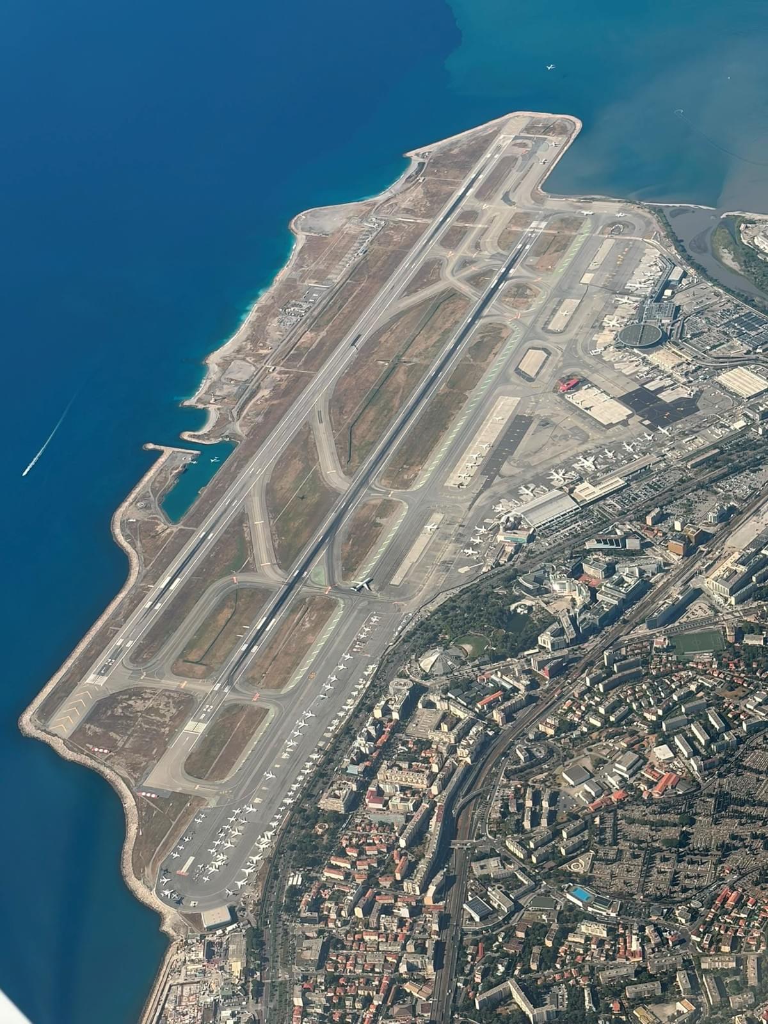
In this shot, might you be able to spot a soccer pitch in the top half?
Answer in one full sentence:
No, in the top half there is no soccer pitch.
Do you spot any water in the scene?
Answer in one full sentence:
Yes, water can be seen from above here.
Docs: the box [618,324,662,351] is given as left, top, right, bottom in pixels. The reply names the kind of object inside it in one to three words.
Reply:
building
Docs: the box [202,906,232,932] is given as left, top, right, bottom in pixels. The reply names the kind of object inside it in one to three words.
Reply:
hangar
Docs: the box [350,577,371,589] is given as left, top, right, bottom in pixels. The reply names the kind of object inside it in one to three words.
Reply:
airplane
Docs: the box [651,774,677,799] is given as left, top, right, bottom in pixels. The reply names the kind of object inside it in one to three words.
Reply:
house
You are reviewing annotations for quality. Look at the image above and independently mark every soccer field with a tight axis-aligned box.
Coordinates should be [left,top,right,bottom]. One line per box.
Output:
[668,629,726,654]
